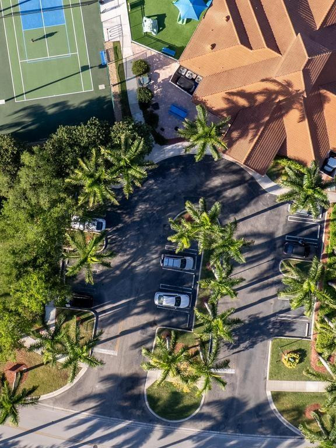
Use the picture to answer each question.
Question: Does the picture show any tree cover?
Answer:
Yes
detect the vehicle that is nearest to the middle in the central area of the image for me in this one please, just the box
[161,254,195,272]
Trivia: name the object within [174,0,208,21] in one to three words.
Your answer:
umbrella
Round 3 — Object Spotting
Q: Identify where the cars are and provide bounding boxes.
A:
[280,240,315,257]
[72,216,106,232]
[288,201,322,216]
[161,254,195,272]
[154,290,190,309]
